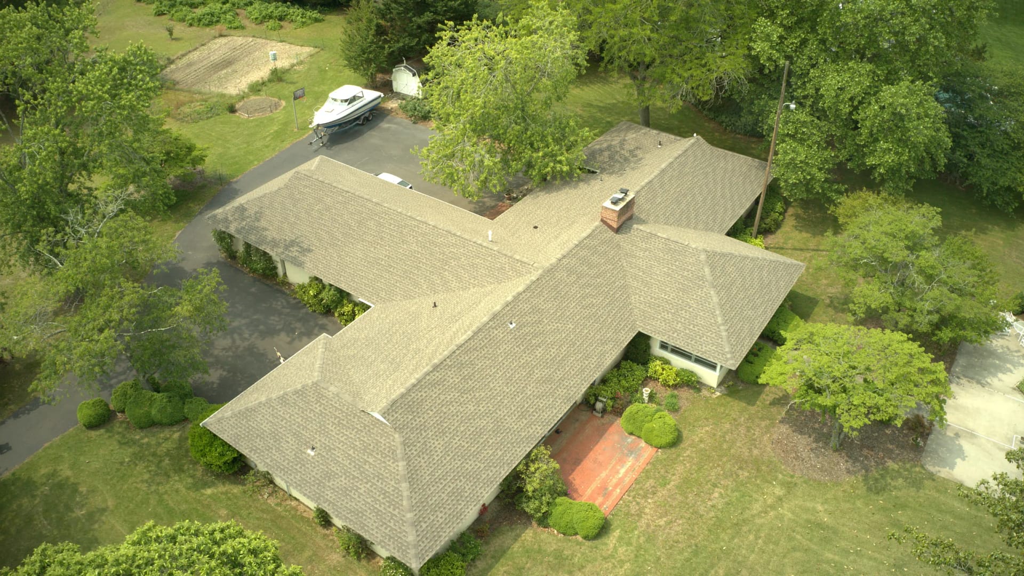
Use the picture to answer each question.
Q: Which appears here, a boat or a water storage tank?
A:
boat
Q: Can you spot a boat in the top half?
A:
Yes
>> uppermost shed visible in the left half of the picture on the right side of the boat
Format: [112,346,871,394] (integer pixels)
[391,63,427,101]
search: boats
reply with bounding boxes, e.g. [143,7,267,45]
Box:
[309,86,383,130]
